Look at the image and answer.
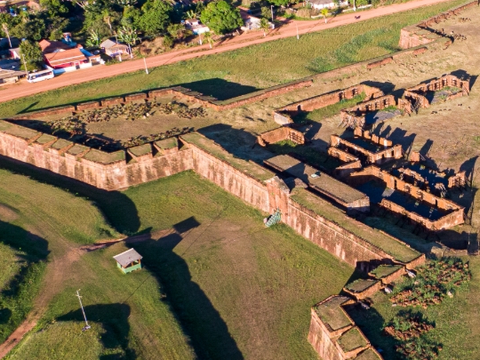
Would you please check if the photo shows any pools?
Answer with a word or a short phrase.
No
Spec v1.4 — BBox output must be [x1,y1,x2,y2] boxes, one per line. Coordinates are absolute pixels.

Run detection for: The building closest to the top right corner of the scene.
[404,75,476,118]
